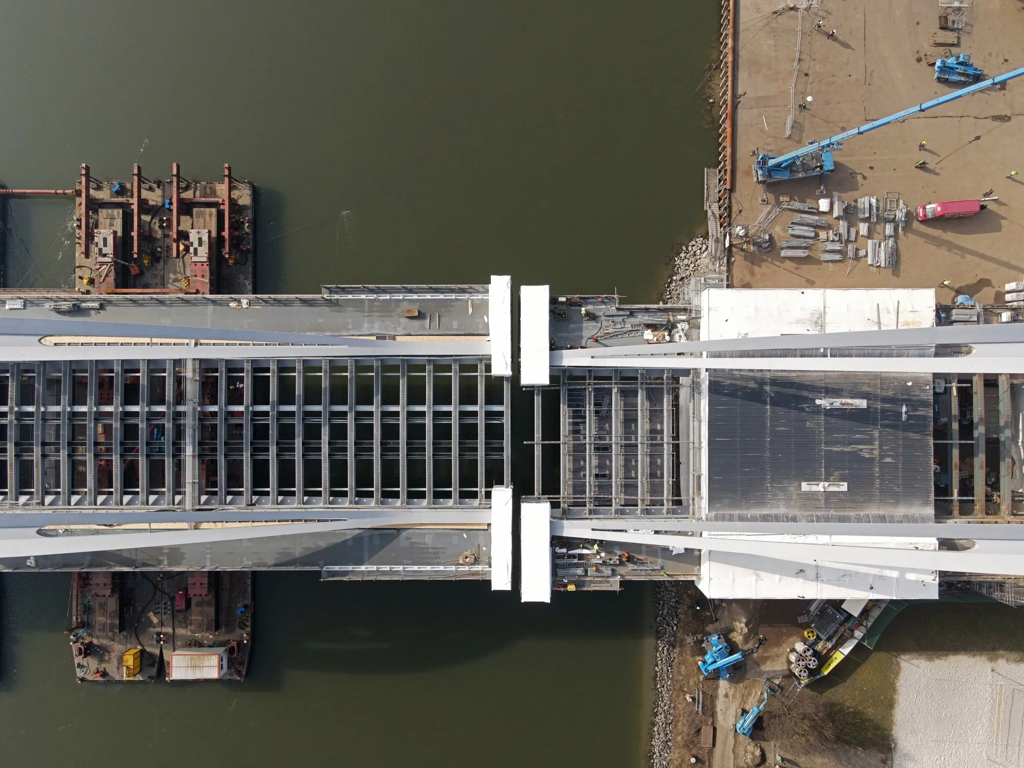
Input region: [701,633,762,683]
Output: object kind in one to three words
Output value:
work vehicle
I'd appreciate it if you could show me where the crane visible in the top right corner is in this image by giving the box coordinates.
[748,72,1024,203]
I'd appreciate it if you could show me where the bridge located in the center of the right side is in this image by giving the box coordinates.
[534,294,1024,593]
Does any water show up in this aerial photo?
Yes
